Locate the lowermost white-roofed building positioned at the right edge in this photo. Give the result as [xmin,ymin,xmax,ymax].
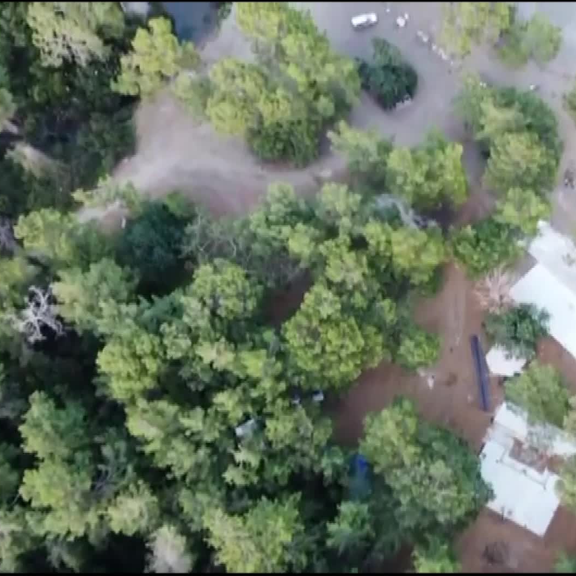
[468,404,576,536]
